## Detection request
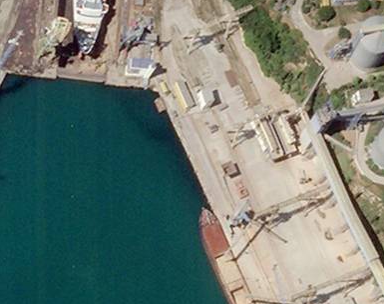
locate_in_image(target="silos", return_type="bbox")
[351,18,384,68]
[369,127,384,172]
